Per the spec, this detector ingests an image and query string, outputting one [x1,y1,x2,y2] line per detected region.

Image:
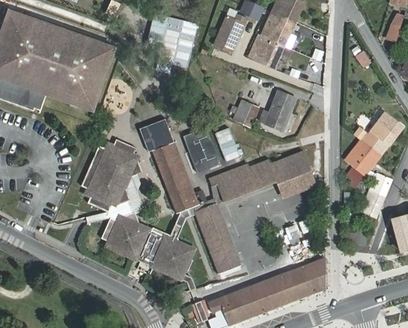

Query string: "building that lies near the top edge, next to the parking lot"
[0,9,114,112]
